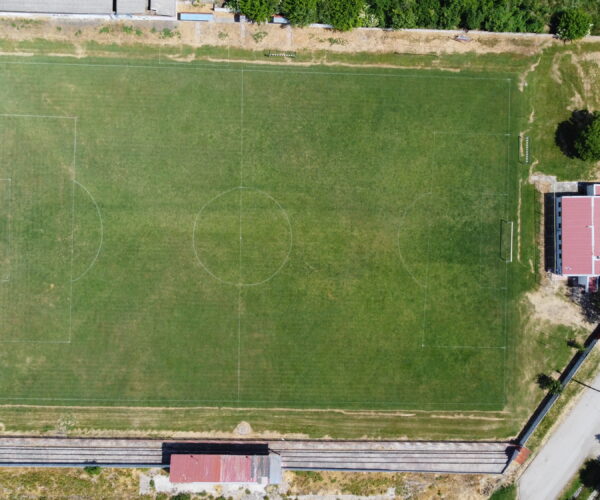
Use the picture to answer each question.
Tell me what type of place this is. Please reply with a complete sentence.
The area seen from above is a sports ground.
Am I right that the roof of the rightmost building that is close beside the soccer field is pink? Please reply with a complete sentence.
Yes, the roof of the rightmost building that is close beside the soccer field appears pink.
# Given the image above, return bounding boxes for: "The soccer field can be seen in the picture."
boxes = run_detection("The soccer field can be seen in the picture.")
[0,61,513,407]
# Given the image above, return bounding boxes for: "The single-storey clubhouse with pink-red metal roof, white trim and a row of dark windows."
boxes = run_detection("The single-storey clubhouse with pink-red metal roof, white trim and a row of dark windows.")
[554,194,600,292]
